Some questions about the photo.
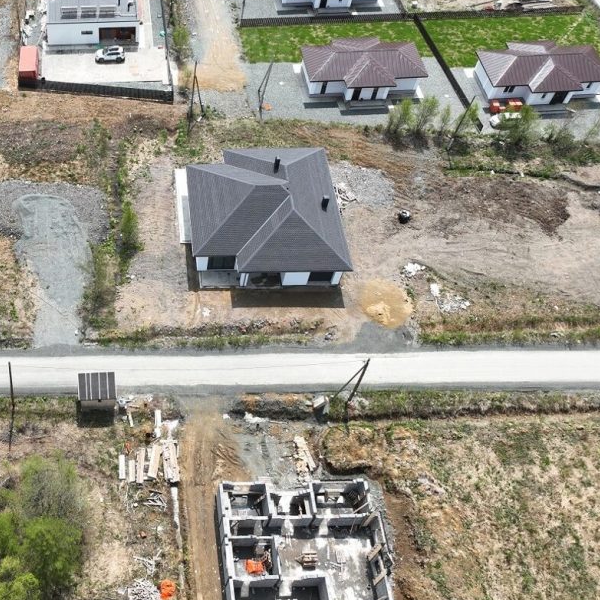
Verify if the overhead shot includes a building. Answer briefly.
Yes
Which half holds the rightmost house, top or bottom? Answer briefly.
top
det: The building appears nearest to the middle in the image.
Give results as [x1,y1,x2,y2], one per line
[178,147,359,290]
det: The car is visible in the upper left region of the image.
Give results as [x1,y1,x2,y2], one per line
[96,46,124,62]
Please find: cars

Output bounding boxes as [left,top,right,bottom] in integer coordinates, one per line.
[96,46,124,62]
[490,113,522,130]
